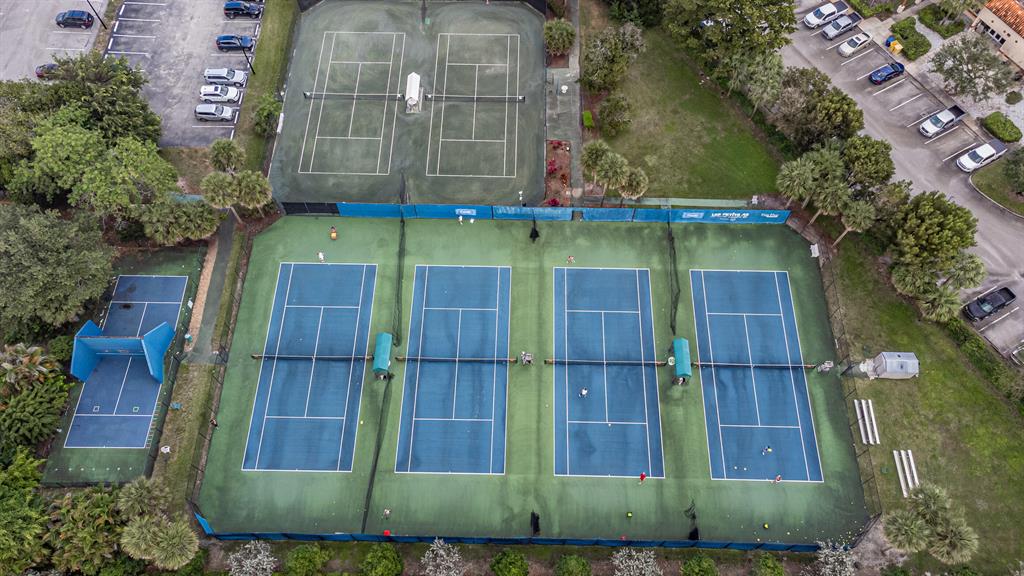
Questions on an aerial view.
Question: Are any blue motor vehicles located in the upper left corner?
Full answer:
Yes, the scene does show a blue motor vehicle in the upper left corner.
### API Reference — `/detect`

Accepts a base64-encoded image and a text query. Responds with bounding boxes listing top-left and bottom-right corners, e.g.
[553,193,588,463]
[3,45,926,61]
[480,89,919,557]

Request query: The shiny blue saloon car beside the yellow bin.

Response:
[867,63,904,86]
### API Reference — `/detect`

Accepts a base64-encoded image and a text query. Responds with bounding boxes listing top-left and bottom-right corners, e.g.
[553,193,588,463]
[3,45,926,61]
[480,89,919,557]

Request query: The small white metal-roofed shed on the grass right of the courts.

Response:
[869,350,923,384]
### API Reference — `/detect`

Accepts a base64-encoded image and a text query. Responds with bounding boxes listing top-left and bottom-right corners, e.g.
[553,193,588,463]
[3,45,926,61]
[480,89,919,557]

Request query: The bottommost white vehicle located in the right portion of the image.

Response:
[959,139,1005,172]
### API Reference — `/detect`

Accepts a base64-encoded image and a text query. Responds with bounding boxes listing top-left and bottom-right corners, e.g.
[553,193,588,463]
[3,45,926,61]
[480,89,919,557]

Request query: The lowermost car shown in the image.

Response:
[966,285,1016,322]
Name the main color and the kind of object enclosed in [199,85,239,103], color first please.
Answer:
white car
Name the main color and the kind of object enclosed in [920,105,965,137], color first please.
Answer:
white car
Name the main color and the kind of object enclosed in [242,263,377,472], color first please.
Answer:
blue tennis court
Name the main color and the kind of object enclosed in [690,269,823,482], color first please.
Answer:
blue tennis court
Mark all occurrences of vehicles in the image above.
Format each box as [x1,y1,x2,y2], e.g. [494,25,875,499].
[55,10,94,29]
[224,0,261,18]
[193,103,234,123]
[199,85,239,103]
[959,139,1005,172]
[821,13,862,41]
[806,1,847,29]
[966,285,1016,322]
[837,33,873,57]
[205,68,245,87]
[34,63,67,80]
[867,63,904,86]
[216,35,252,52]
[920,105,965,137]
